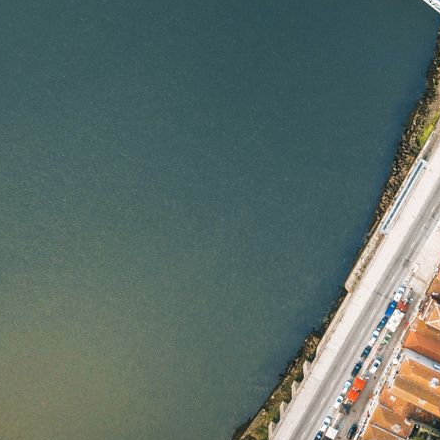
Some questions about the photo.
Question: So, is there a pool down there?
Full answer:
No, the frame has no pool in it.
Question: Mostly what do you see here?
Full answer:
What you mostly see from above here is water.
